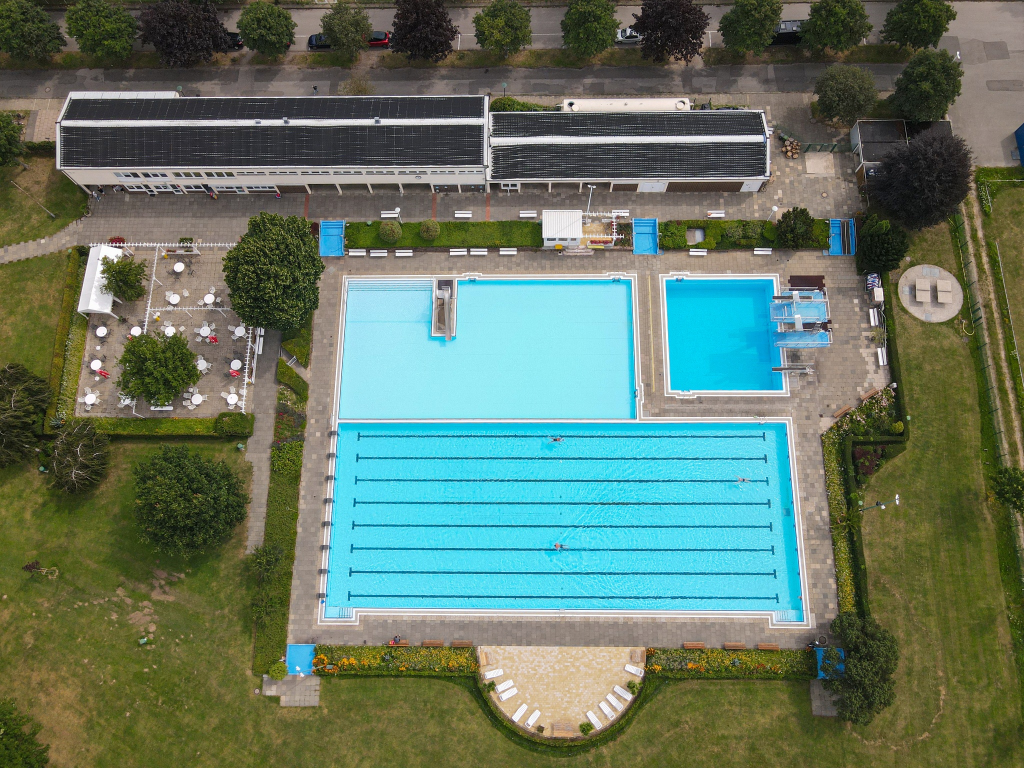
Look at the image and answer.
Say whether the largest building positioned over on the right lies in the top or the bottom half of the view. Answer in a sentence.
You can find the largest building positioned over on the right in the top half.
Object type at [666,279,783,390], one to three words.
swimming pool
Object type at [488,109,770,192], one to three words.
building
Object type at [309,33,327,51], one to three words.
car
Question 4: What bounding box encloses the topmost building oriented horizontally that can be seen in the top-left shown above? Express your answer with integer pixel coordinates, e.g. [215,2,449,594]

[56,93,490,195]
